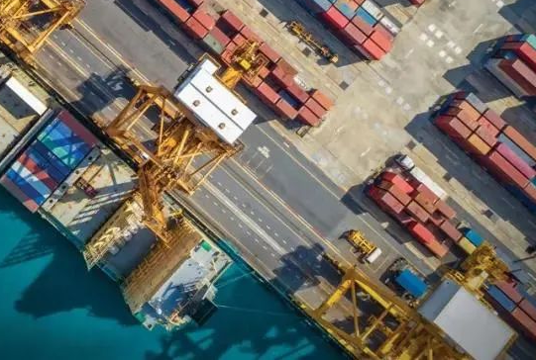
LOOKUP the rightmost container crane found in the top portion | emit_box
[93,35,270,247]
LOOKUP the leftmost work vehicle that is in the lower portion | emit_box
[341,224,380,259]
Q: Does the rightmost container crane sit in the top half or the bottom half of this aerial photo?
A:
bottom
